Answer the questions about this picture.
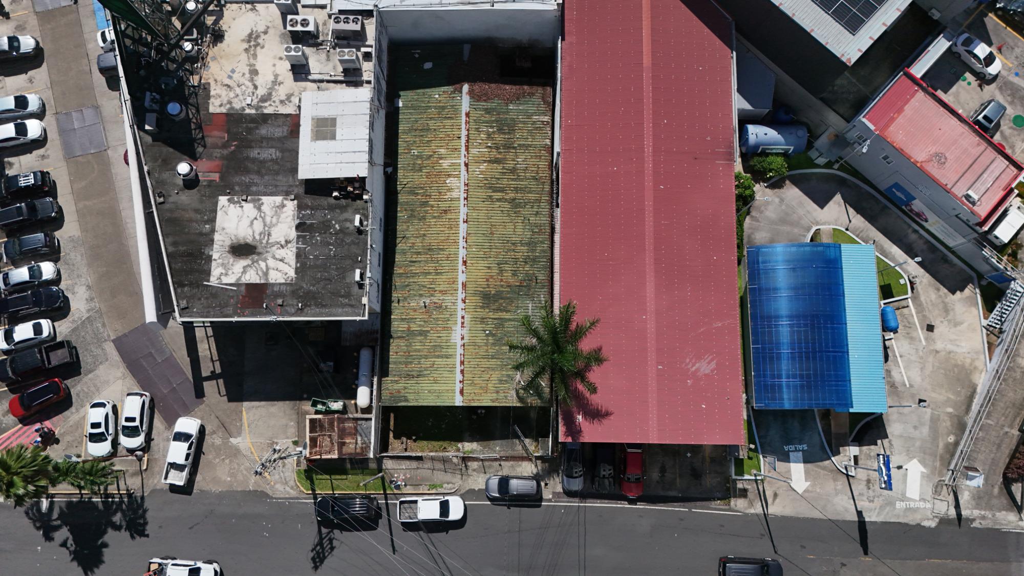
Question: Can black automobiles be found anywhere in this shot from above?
Yes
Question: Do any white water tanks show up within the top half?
No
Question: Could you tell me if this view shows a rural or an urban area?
urban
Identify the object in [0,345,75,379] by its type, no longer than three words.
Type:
truck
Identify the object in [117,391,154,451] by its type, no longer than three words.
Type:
car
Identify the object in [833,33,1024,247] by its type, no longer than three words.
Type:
building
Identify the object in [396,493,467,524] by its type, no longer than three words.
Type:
truck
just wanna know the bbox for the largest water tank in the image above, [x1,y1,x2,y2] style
[742,128,806,158]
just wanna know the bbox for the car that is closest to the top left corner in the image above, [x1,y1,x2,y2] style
[0,33,44,61]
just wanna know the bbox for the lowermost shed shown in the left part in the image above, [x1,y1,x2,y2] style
[306,416,377,457]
